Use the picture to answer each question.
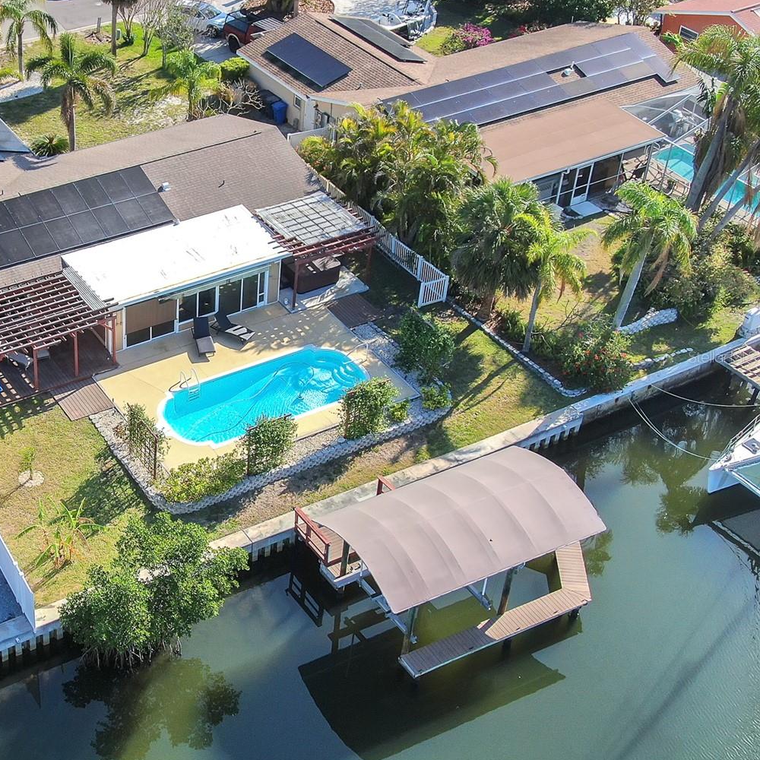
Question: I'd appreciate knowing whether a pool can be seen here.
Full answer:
Yes, a pool appears in the view.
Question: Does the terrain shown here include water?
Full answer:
Yes, water shows up in the scene.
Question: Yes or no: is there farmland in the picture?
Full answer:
No, there's no farmland in this view.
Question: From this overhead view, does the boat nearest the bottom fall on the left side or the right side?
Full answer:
It is on the right.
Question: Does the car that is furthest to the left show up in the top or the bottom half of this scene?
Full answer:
It is in the top half that the car that is furthest to the left appears.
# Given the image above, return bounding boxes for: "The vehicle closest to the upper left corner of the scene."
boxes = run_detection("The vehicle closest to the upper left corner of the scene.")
[169,0,228,31]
